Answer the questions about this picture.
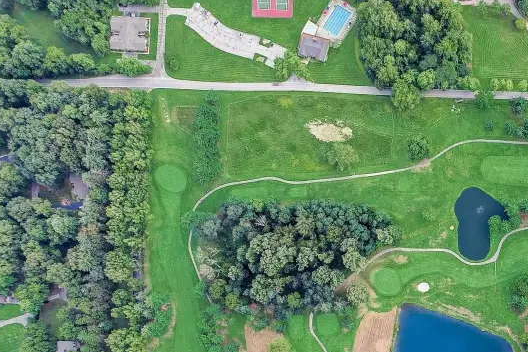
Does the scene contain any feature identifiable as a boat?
No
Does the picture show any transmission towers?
No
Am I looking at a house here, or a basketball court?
house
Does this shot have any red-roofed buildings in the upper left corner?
No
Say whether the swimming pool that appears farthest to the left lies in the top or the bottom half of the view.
top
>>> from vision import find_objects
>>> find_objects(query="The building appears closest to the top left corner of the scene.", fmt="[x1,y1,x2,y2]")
[110,13,151,55]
